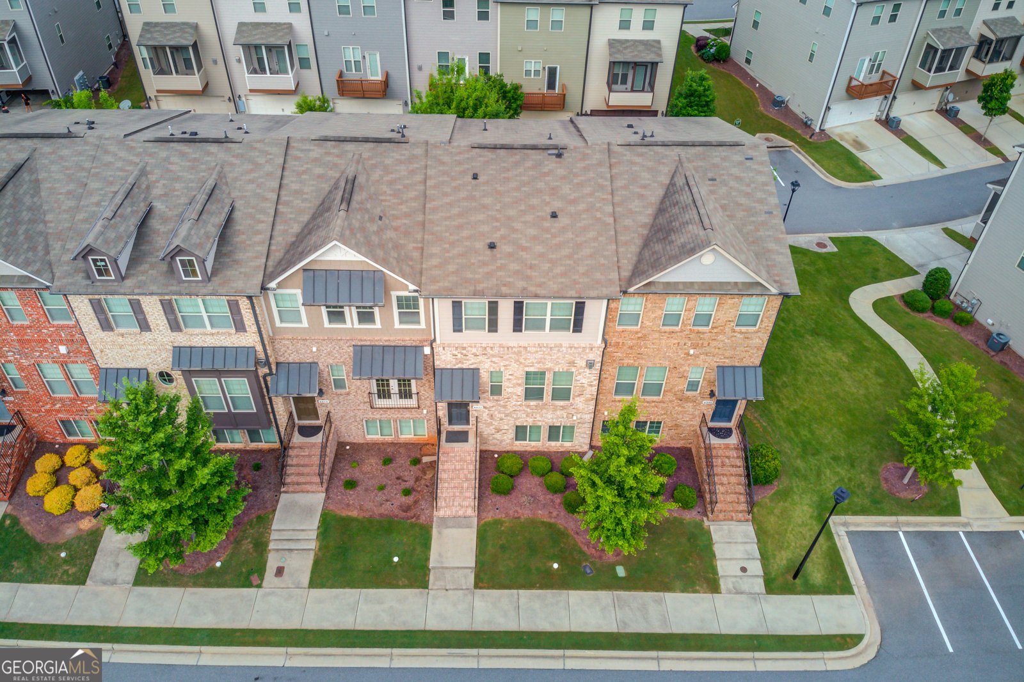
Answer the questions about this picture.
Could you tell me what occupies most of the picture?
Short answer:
buildings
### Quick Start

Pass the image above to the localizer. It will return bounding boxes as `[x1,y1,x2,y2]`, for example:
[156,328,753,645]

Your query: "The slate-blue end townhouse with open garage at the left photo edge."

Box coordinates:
[0,0,126,99]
